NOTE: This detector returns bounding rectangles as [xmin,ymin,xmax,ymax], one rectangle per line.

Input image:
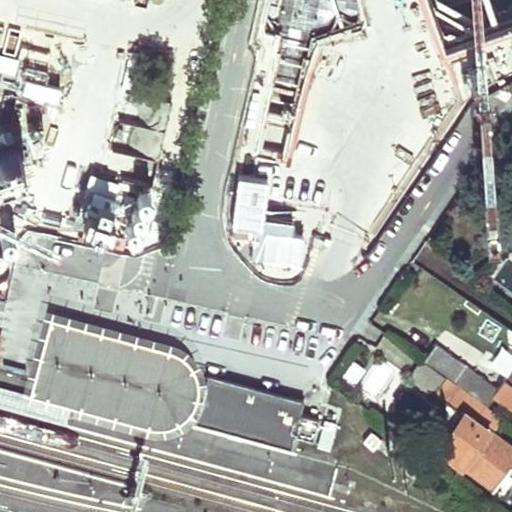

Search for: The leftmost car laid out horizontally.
[52,244,76,256]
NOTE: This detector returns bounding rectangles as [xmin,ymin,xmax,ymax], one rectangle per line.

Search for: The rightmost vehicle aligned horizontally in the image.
[320,326,343,338]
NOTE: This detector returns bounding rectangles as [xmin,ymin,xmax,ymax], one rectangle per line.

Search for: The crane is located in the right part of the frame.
[464,0,501,258]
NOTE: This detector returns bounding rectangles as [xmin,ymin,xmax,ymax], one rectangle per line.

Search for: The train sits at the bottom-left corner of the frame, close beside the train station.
[0,418,80,452]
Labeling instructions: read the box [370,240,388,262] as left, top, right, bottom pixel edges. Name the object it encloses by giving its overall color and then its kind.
white vehicle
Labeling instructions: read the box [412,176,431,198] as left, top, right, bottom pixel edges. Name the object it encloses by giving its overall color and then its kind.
white car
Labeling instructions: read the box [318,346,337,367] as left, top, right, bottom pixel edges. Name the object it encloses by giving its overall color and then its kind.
white car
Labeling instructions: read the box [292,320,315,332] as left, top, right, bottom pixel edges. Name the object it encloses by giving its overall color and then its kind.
white vehicle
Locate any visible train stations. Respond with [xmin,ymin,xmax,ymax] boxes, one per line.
[23,312,209,442]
